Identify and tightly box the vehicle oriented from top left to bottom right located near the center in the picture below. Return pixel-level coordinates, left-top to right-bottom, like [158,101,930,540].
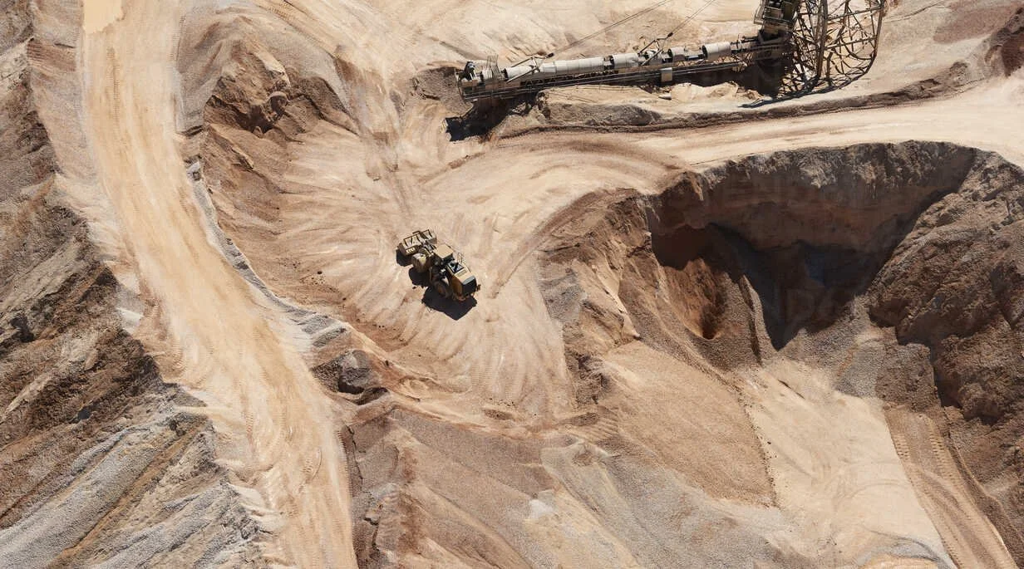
[397,220,482,301]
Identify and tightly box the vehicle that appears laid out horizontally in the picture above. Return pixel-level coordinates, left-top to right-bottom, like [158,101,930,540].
[468,0,886,104]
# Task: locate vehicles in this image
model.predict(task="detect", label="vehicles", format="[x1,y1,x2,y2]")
[397,220,482,301]
[468,0,886,104]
